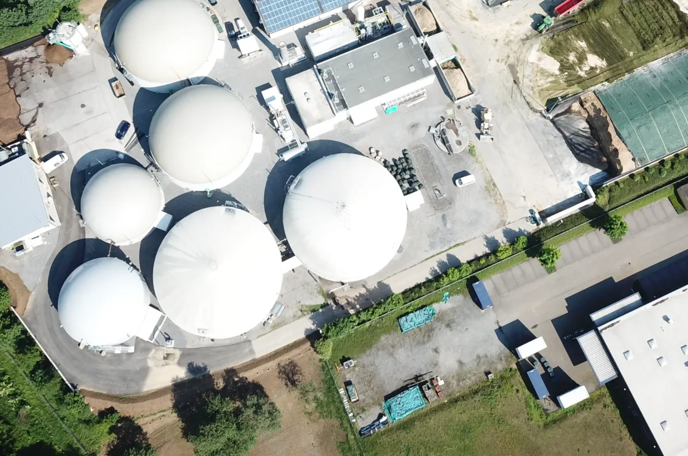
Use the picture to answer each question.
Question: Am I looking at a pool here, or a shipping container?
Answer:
shipping container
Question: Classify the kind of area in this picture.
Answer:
industrial area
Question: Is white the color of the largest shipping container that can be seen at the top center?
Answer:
Yes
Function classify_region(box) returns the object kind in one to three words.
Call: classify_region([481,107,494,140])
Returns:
vehicle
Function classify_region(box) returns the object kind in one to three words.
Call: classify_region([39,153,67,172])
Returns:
vehicle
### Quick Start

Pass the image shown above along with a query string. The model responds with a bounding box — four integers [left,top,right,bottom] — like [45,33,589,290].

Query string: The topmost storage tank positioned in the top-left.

[108,0,226,94]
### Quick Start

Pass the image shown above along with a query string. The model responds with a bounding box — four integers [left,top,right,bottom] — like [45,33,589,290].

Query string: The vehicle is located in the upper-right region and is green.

[537,14,554,33]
